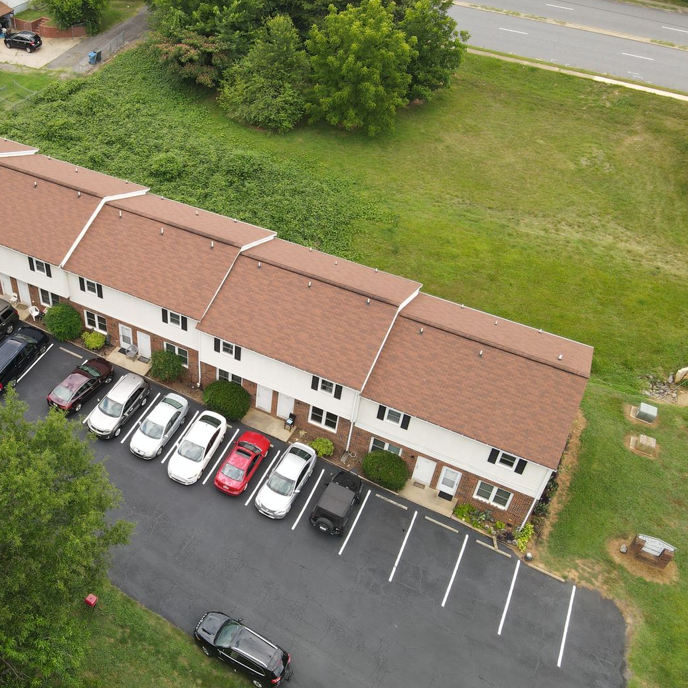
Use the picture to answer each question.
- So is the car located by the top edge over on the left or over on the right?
left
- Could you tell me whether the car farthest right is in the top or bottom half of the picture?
bottom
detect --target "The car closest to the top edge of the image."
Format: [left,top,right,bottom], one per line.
[1,29,44,53]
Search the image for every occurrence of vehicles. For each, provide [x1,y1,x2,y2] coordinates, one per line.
[0,302,20,338]
[189,606,296,688]
[167,410,229,487]
[0,323,52,390]
[213,428,272,498]
[128,393,190,463]
[1,29,44,53]
[310,469,366,543]
[85,371,152,442]
[255,443,320,523]
[47,356,115,419]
